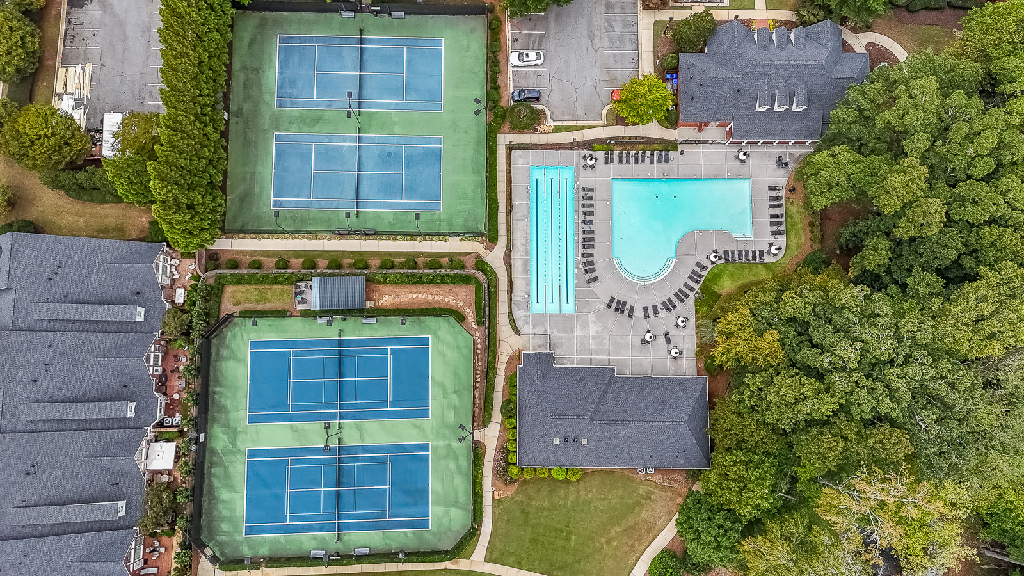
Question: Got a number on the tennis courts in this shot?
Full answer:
The picture shows 4 tennis courts.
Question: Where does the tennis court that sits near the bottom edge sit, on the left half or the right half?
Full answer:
The tennis court that sits near the bottom edge appears in the left half of the scene.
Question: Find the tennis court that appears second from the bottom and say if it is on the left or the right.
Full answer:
It is on the left.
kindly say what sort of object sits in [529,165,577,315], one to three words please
swimming pool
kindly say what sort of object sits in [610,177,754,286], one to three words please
swimming pool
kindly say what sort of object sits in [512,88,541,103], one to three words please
car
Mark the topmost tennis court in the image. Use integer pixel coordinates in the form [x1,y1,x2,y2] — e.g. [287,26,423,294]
[229,11,487,122]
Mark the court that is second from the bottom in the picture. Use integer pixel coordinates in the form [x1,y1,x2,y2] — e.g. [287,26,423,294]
[205,316,474,436]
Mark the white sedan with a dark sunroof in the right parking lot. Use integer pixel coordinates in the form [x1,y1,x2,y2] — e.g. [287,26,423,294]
[511,50,544,67]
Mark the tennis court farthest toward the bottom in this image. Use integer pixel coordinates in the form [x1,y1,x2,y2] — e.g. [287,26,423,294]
[201,433,473,562]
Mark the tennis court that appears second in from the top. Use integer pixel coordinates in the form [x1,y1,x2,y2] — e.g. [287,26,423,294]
[225,120,487,236]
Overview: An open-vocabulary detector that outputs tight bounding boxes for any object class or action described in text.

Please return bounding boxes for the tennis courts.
[225,120,487,236]
[201,433,473,562]
[205,316,474,436]
[229,11,487,122]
